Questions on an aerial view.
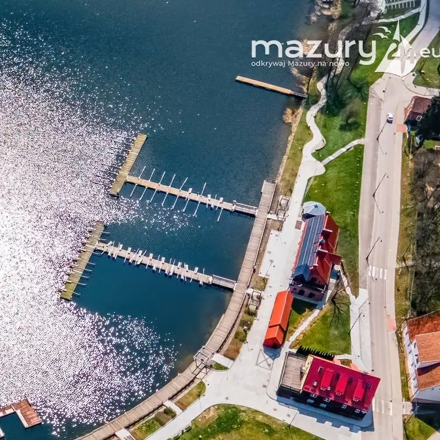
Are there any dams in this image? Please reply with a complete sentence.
No, there isn't any dam down there.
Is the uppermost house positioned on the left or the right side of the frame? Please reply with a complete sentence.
The uppermost house is on the right side of the image.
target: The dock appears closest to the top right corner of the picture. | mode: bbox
[236,77,308,98]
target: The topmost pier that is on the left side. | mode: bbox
[92,134,257,223]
